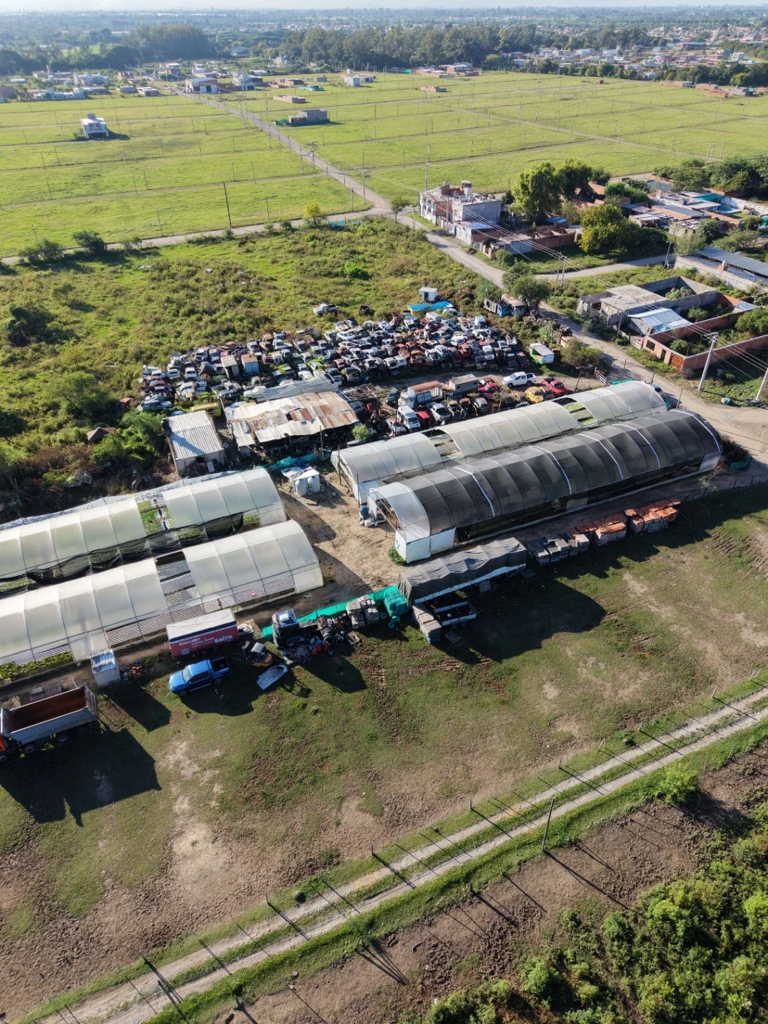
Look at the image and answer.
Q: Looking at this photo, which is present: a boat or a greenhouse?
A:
greenhouse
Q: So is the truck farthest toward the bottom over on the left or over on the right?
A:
left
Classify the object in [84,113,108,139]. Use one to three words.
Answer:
house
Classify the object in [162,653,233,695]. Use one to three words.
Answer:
truck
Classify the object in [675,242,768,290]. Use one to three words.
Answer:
shed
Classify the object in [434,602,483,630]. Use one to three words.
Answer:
trailer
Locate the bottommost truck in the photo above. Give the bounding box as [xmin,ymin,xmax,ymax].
[0,684,102,767]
